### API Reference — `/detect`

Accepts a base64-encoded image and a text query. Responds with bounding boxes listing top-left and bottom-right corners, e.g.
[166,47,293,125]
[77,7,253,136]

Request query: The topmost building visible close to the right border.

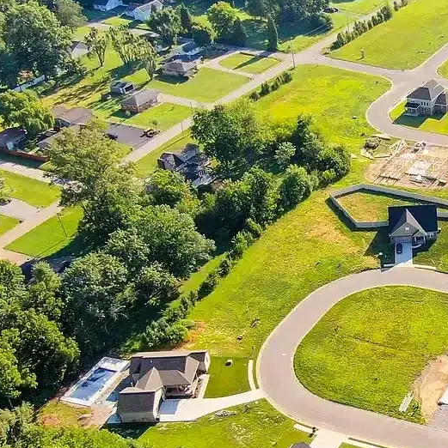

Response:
[401,79,448,117]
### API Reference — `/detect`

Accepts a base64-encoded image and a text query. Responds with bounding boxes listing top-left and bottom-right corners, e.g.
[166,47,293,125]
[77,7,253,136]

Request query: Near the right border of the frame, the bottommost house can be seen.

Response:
[386,205,439,247]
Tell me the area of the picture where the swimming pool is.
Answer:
bottom left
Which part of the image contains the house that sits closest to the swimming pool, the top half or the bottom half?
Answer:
bottom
